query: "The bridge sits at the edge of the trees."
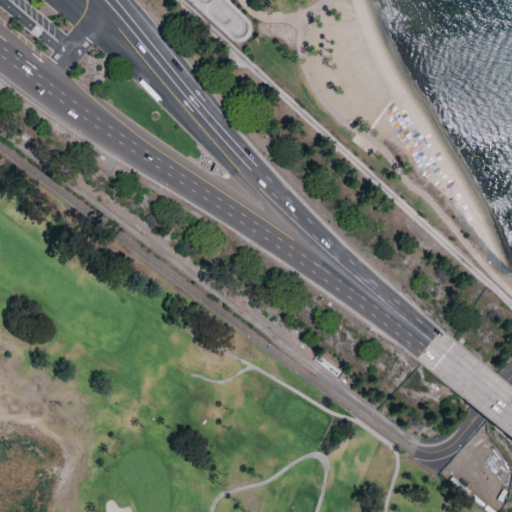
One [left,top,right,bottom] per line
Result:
[419,336,512,438]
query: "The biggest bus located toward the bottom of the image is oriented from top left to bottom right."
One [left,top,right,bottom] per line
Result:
[314,356,341,376]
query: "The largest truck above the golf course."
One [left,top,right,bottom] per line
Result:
[135,76,164,103]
